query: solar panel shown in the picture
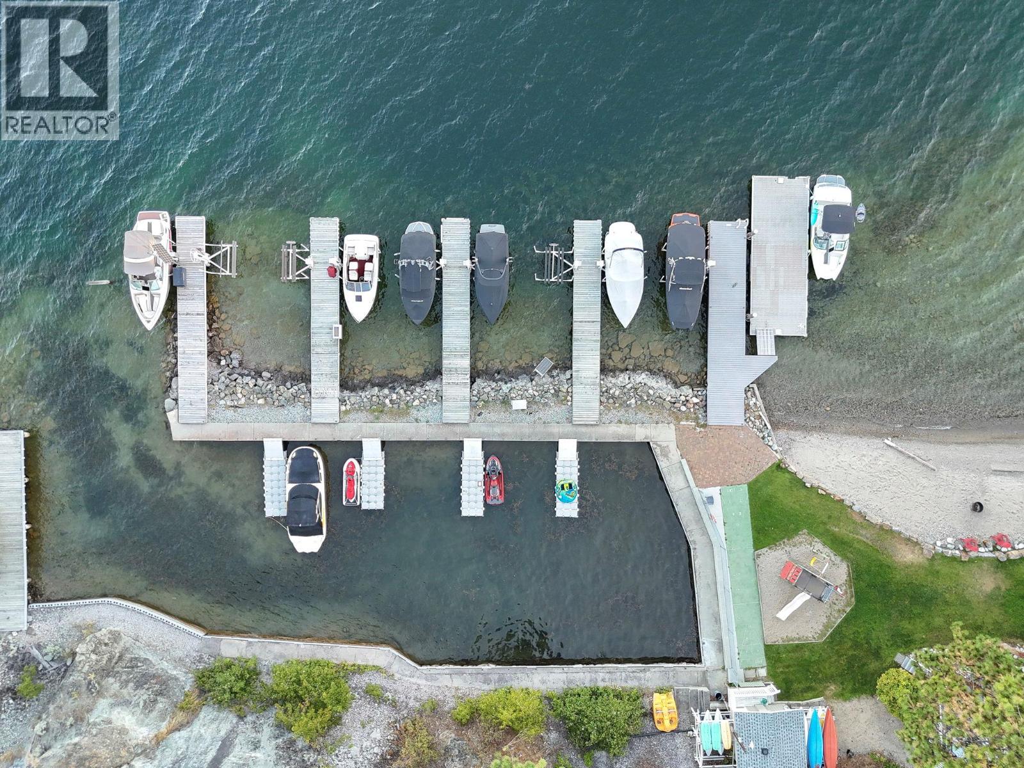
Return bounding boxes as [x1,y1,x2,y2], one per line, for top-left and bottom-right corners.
[147,240,194,275]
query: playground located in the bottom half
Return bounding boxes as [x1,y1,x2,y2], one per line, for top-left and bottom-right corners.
[776,549,845,622]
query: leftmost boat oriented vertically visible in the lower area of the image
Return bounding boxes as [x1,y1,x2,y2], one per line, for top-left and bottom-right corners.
[286,446,329,551]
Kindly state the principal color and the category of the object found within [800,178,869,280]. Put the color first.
white boat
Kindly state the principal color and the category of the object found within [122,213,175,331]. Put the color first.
white boat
